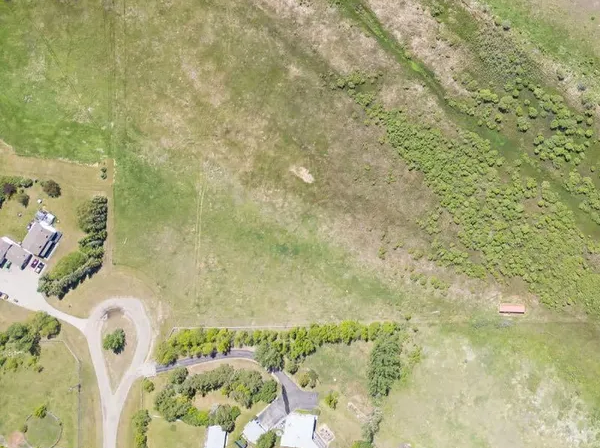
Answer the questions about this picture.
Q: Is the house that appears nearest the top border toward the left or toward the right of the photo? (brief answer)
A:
left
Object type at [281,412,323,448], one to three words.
house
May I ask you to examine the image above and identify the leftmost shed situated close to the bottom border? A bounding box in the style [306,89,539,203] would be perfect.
[207,424,228,448]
